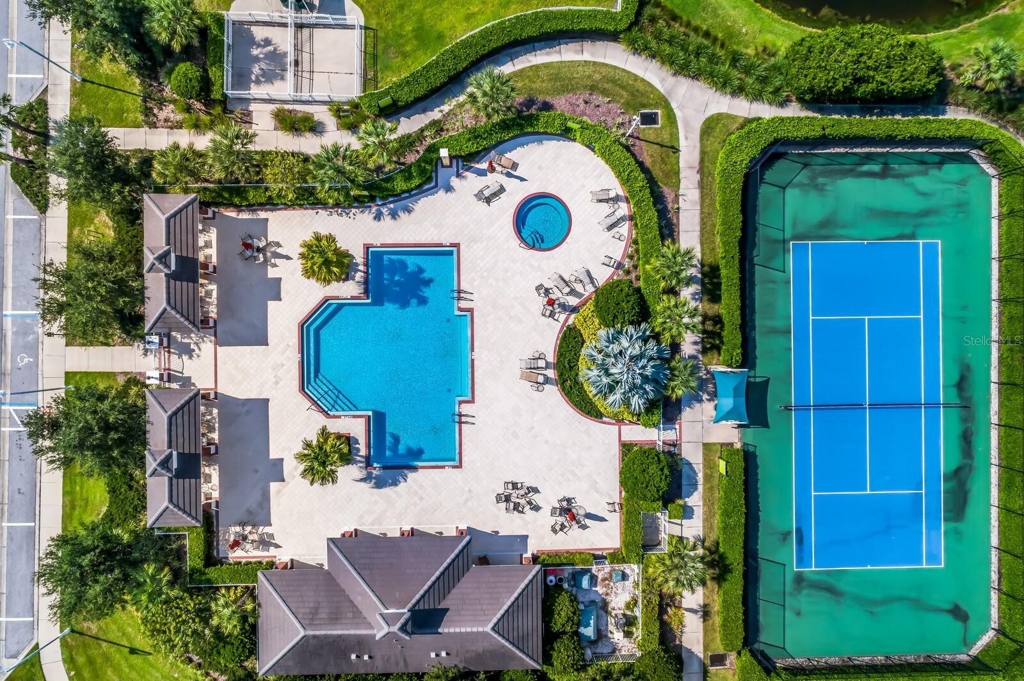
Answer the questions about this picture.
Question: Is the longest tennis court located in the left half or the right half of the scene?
right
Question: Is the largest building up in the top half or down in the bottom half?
bottom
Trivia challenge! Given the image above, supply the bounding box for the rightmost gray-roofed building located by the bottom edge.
[257,527,543,677]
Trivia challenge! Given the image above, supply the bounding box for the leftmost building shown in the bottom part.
[144,388,219,529]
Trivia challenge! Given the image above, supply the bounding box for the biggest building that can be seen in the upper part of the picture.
[141,193,217,333]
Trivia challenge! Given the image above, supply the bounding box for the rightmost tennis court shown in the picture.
[743,151,992,659]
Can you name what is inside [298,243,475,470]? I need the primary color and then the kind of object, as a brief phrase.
blue swimming pool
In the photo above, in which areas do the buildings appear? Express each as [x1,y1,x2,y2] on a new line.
[257,527,543,677]
[144,388,219,529]
[141,193,217,333]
